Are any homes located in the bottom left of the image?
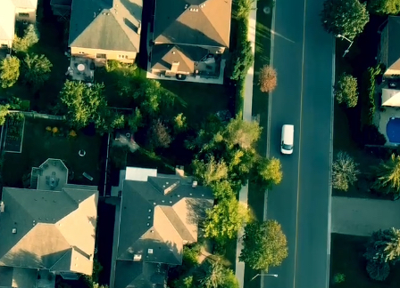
Yes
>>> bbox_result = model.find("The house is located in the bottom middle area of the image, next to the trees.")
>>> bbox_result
[113,164,213,288]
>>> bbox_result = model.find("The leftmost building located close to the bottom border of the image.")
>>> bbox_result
[0,184,99,288]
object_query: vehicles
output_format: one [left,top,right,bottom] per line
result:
[281,123,294,157]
